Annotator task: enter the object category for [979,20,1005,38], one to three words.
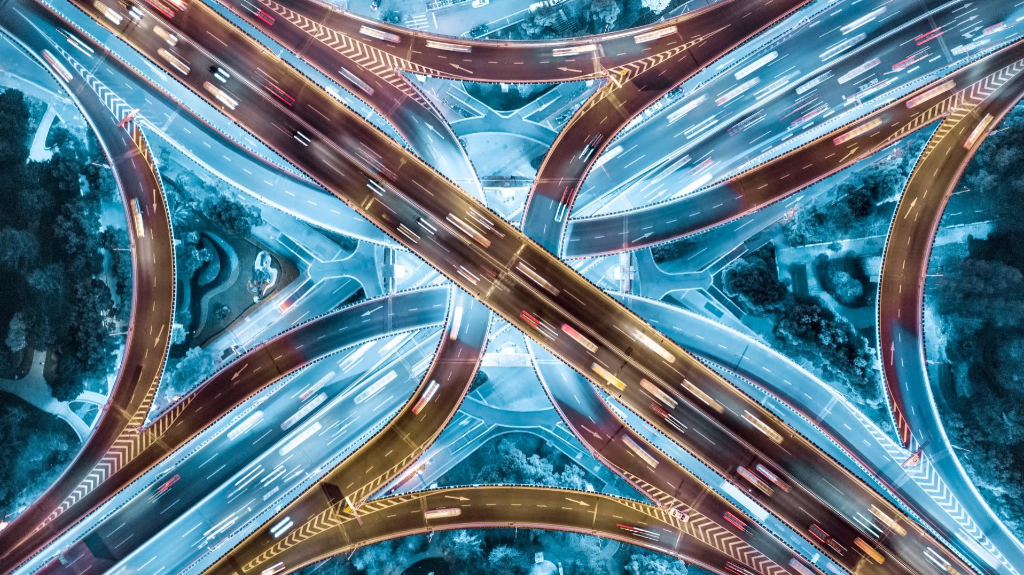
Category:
vehicle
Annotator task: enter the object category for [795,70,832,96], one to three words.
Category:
bus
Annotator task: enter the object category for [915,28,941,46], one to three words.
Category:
car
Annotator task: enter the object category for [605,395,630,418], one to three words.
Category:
vehicle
